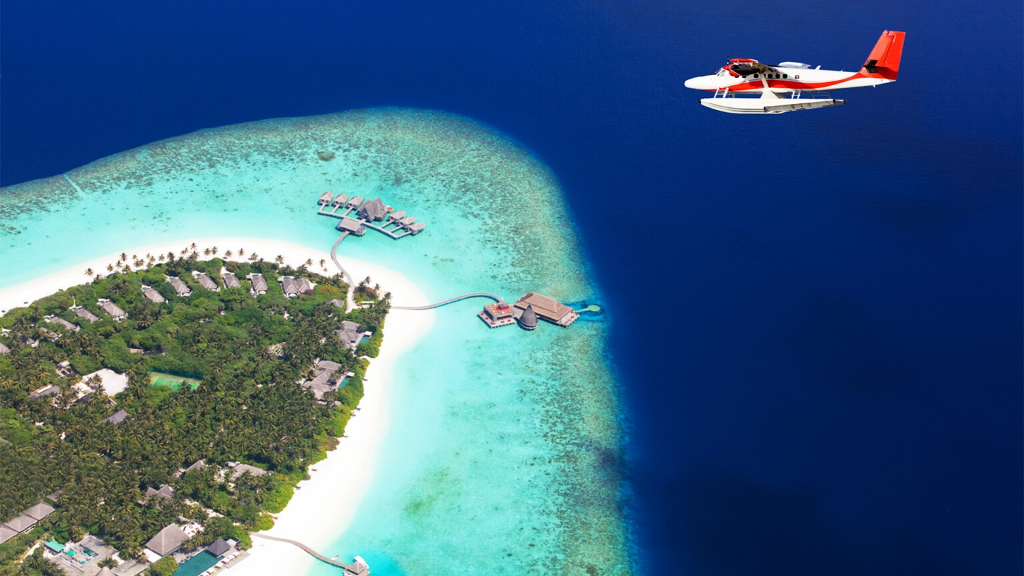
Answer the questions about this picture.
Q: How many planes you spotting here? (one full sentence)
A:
I count just 1 plane.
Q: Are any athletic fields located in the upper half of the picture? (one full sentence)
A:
No, no athletic field can be made out in the upper half of the picture.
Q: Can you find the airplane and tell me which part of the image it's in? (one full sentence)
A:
The airplane is located in the top right region of the scene.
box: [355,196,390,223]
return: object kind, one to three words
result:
building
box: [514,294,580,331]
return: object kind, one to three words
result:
building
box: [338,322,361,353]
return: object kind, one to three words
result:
house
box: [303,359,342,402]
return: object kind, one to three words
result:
house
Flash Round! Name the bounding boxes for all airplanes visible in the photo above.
[685,31,905,112]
